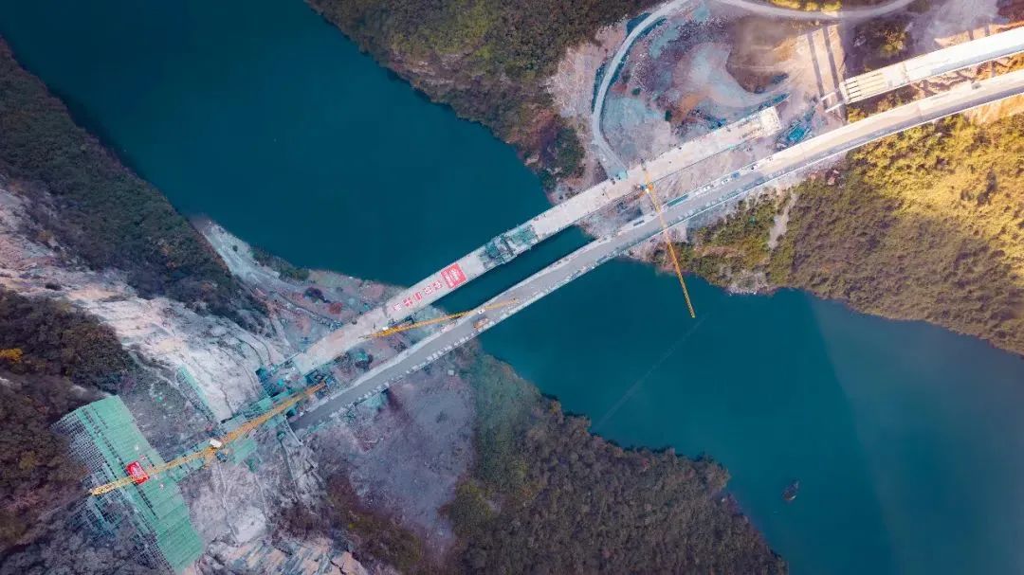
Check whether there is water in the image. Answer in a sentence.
Yes, there's water in this view.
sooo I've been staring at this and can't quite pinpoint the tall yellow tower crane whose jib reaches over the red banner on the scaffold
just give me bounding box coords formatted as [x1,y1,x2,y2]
[87,383,326,495]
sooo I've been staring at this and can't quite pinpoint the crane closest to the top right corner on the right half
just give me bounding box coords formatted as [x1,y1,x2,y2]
[617,162,695,318]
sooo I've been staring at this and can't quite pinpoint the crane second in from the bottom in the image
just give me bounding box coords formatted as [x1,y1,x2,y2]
[360,299,518,341]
